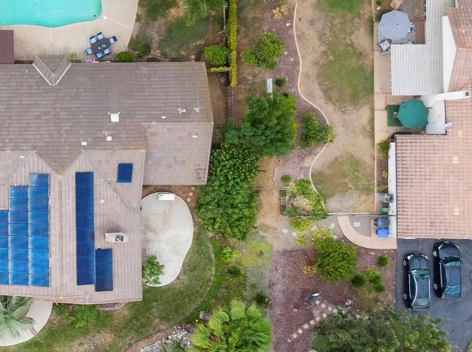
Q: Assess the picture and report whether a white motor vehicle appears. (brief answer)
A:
No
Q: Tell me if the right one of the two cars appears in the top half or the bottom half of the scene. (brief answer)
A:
bottom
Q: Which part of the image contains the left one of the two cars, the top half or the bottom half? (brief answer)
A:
bottom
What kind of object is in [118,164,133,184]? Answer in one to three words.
solar panel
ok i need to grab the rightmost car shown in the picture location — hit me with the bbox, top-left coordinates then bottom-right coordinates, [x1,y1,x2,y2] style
[430,240,463,299]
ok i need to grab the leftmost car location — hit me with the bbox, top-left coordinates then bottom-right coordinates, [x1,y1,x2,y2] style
[400,251,432,310]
